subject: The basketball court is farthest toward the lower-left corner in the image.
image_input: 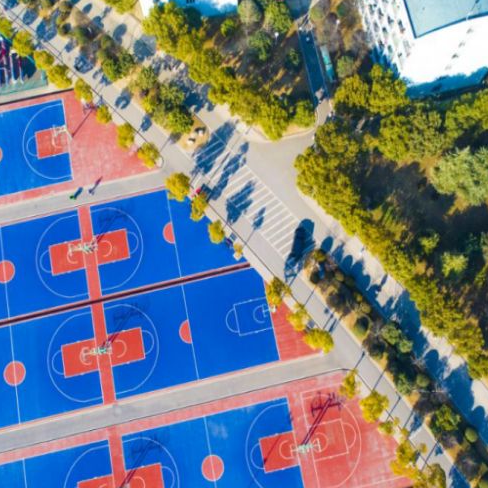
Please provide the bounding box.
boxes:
[0,439,115,488]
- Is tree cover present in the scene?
Yes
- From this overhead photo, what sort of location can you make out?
sports ground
